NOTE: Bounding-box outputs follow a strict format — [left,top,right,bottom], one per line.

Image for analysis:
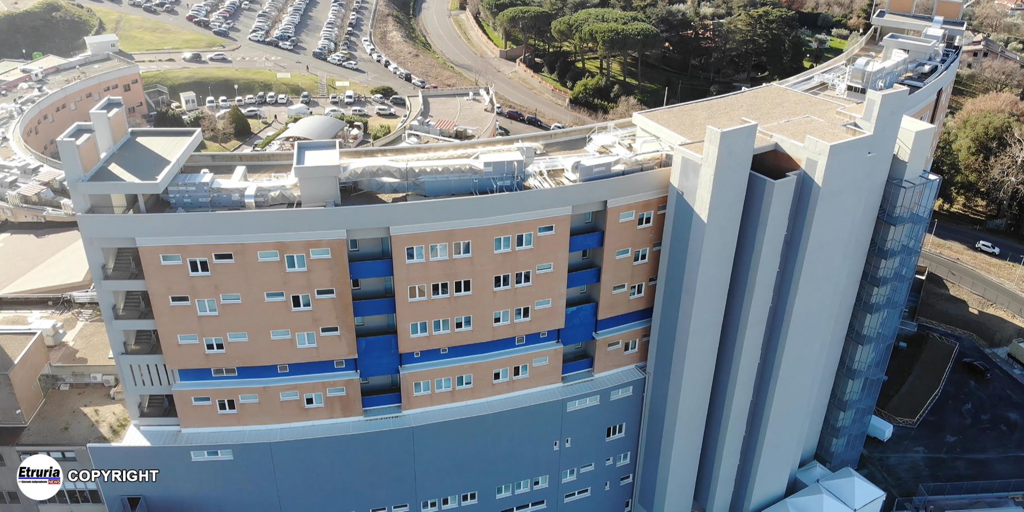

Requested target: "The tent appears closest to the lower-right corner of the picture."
[817,466,886,512]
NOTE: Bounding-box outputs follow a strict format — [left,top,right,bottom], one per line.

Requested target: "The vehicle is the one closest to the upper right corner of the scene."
[973,237,1005,254]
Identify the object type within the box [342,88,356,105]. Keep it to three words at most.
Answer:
vehicle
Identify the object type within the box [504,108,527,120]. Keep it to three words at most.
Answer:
vehicle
